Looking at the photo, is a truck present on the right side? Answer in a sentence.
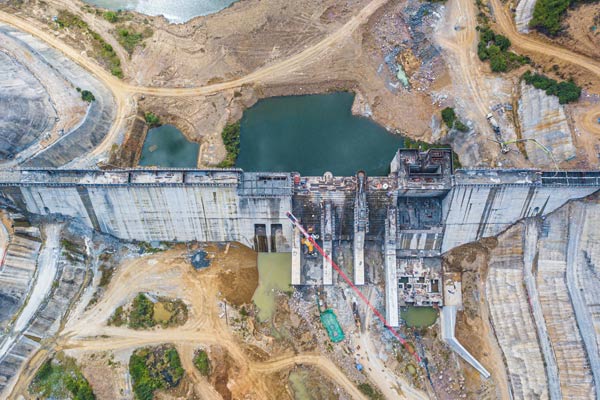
Yes, the scene does show a truck on the right side.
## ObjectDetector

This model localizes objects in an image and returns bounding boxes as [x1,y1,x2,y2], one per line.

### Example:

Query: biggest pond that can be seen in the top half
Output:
[236,93,404,176]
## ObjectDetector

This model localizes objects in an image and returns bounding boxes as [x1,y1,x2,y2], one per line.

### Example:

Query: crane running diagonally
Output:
[287,211,438,371]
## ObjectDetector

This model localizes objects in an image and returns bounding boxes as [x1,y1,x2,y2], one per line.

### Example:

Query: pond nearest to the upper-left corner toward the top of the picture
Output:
[141,124,200,167]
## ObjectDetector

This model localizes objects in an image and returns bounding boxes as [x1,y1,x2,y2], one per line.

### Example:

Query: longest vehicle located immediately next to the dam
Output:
[493,129,558,178]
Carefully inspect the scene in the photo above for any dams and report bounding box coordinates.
[0,149,600,327]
